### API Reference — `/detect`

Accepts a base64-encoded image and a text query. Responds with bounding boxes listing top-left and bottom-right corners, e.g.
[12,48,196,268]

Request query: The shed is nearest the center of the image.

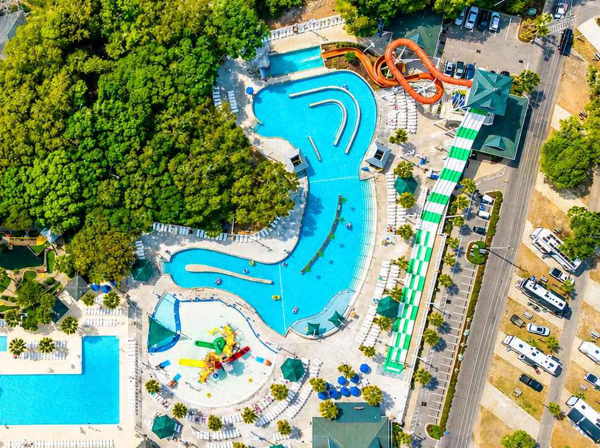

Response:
[280,147,309,174]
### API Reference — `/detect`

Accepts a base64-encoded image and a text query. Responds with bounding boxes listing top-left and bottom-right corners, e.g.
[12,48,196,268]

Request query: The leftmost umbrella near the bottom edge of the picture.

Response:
[152,414,176,440]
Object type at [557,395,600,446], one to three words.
camper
